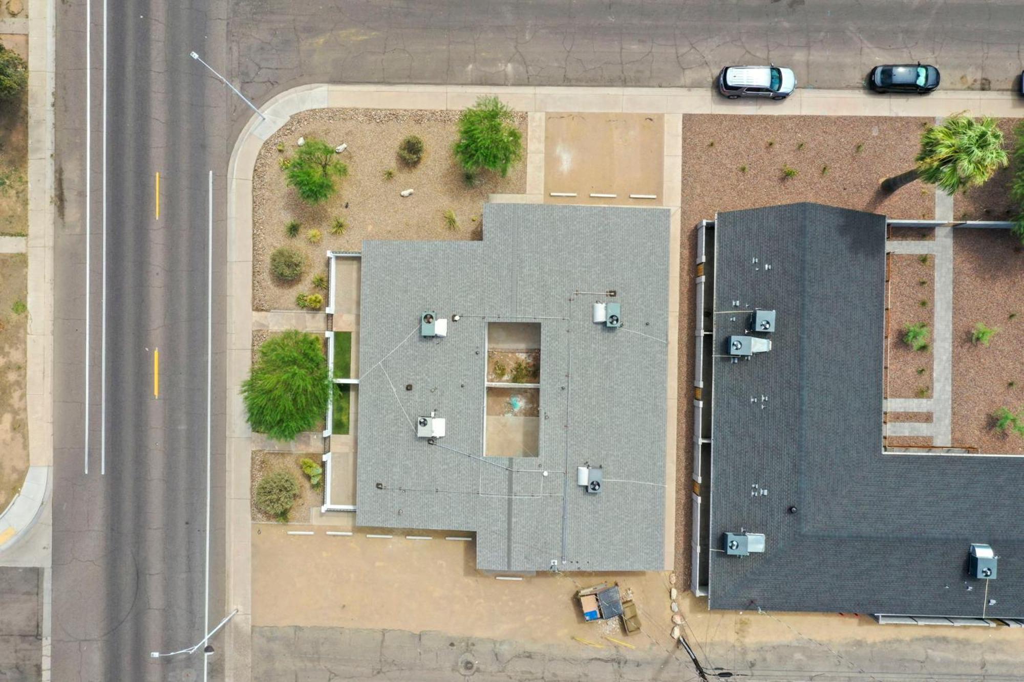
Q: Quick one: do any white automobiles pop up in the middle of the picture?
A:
No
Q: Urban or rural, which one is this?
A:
urban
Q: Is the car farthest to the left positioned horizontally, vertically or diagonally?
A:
horizontally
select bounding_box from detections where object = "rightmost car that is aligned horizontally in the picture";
[868,59,940,95]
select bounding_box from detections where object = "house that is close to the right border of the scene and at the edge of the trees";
[707,203,1024,620]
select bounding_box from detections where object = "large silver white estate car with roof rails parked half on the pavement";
[716,61,795,100]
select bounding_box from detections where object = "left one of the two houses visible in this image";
[356,204,671,574]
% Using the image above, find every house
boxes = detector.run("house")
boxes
[707,203,1024,620]
[356,204,671,574]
